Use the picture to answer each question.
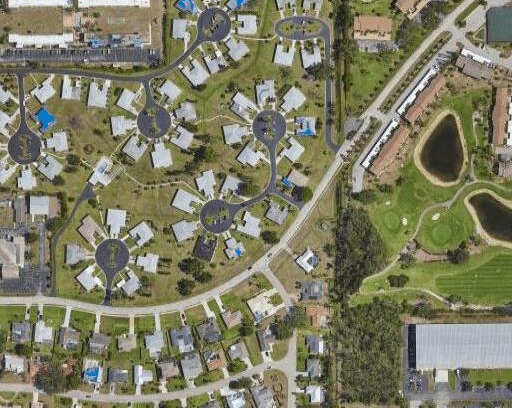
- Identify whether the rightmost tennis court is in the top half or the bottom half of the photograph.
top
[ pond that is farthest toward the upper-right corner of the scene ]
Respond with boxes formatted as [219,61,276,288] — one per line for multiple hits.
[422,113,465,181]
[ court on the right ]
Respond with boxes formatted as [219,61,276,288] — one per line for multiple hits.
[488,6,512,42]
